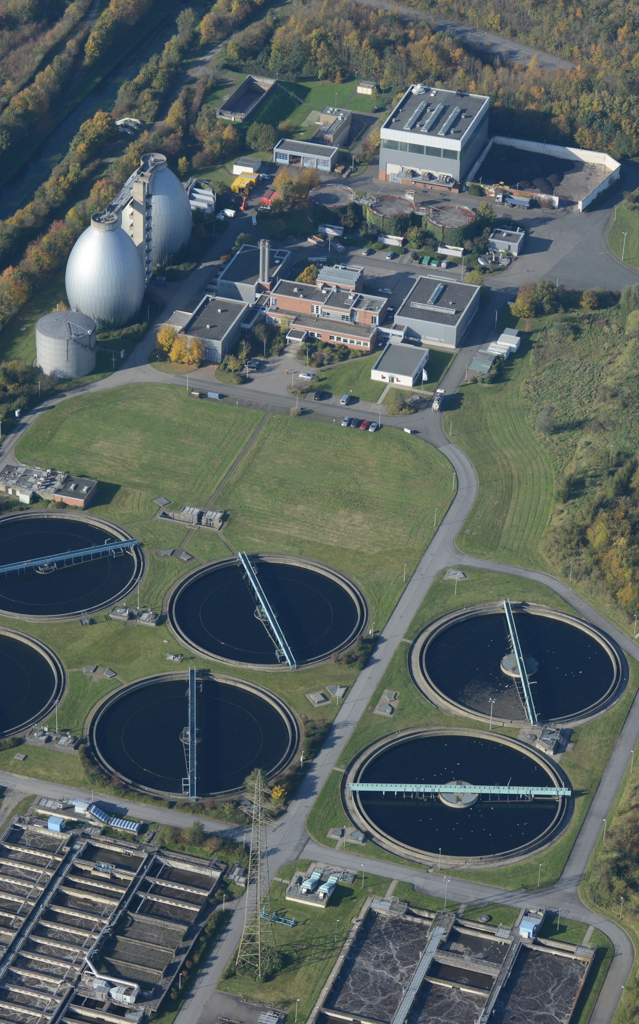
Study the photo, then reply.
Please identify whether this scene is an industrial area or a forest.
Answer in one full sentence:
The picture captures an industrial area.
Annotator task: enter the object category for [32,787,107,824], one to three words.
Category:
building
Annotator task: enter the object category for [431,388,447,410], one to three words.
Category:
vehicle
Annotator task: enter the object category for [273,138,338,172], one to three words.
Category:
building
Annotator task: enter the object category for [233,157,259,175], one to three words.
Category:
shed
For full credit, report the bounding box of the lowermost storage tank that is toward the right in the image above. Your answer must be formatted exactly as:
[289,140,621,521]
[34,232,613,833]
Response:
[315,911,592,1024]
